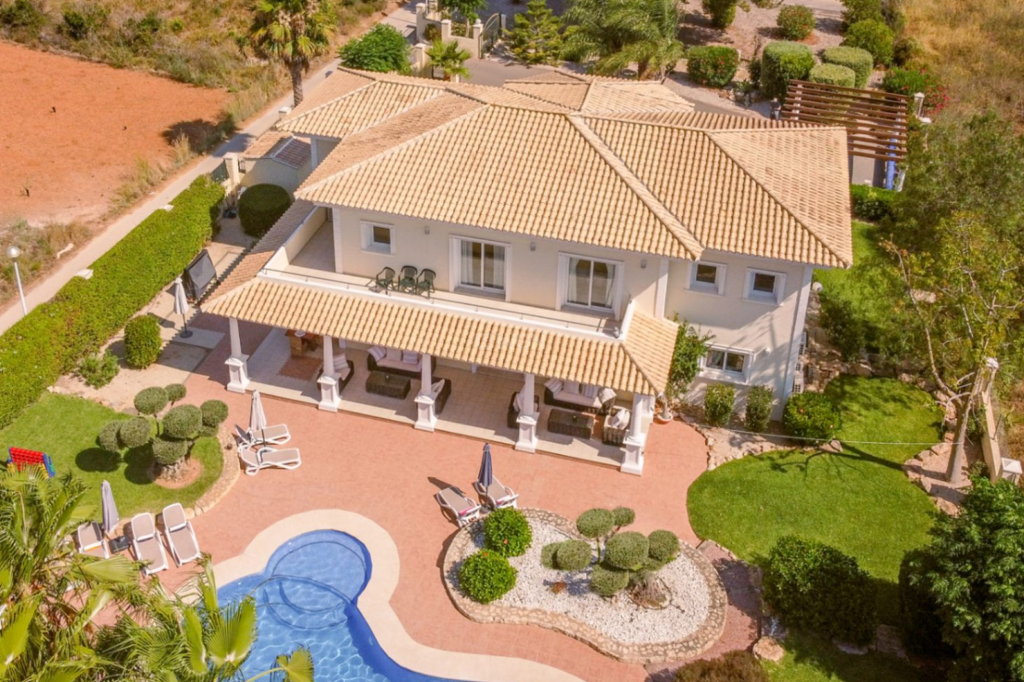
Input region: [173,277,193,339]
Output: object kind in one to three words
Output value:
umbrella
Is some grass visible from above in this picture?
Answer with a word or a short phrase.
Yes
